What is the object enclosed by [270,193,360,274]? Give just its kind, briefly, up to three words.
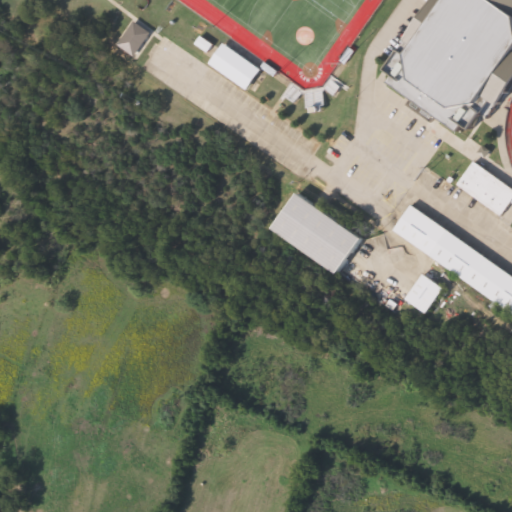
building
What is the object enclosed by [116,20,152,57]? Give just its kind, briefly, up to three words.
building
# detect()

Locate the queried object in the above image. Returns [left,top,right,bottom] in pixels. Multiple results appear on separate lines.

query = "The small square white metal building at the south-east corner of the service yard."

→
[405,274,442,314]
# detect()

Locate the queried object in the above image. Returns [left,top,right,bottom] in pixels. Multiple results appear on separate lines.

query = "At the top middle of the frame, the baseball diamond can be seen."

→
[180,0,384,89]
